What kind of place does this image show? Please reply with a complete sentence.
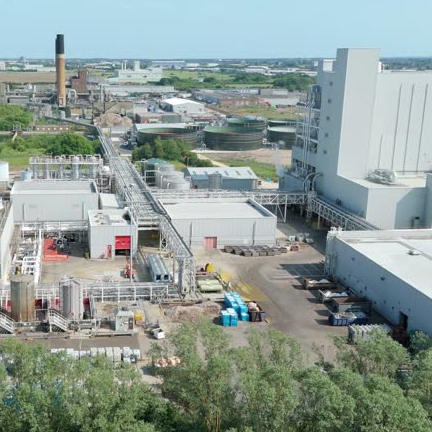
The area seen from above is an industrial area.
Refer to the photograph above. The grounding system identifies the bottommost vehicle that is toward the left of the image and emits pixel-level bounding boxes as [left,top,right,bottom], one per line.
[149,321,175,340]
